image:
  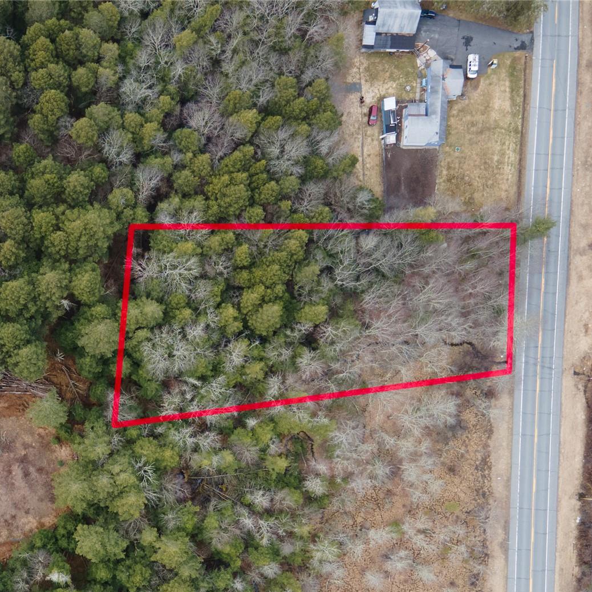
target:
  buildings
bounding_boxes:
[376,96,396,138]
[360,0,422,52]
[398,60,464,148]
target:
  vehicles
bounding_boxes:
[366,106,376,127]
[420,8,438,22]
[465,54,478,79]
